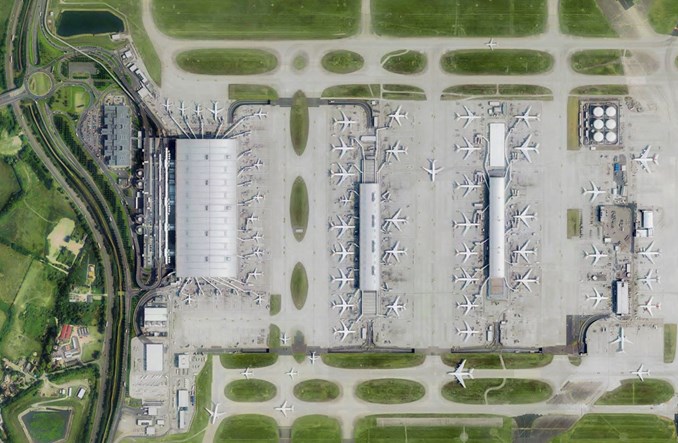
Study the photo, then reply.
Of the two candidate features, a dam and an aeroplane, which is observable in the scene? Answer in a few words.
aeroplane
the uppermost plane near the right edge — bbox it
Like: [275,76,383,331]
[633,145,661,173]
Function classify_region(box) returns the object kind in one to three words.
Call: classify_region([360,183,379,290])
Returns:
building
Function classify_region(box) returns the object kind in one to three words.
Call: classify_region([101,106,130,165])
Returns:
building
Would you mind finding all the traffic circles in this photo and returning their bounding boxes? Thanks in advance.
[24,70,55,101]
